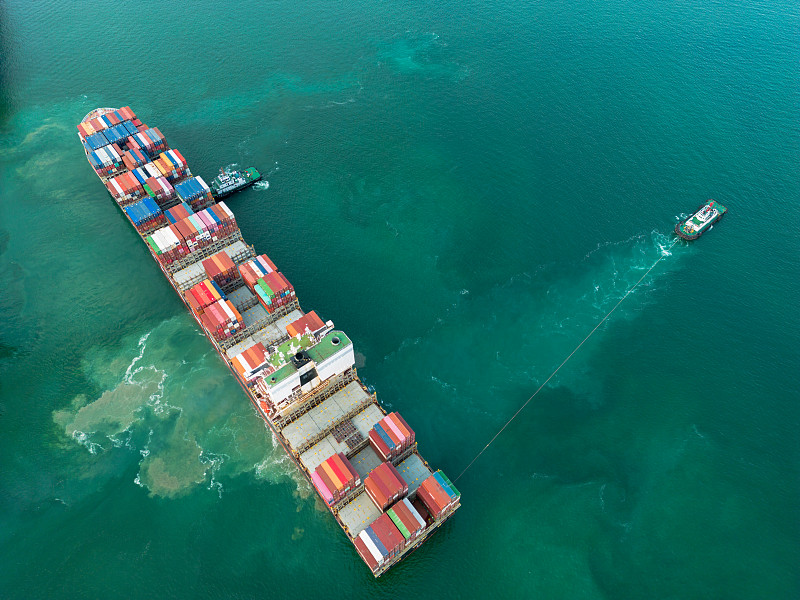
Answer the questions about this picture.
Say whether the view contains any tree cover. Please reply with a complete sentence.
No, no tree cover is visible.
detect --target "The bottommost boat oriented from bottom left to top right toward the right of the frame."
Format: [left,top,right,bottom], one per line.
[675,196,727,240]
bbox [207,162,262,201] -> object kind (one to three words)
boat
